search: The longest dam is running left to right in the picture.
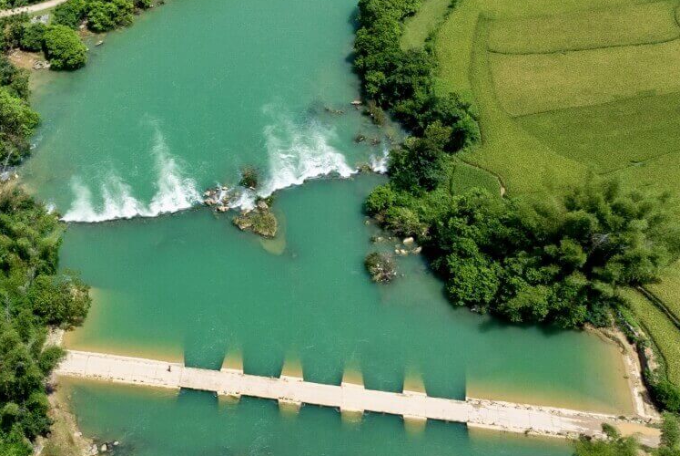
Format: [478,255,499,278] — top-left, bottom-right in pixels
[57,169,388,223]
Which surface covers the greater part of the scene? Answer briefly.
water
